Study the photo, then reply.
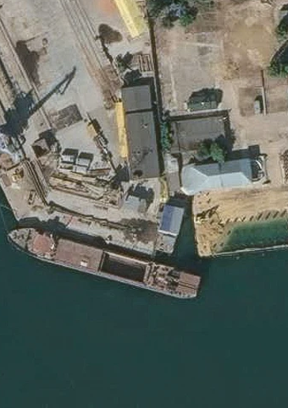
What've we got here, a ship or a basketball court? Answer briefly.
ship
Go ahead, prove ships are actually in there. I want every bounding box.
[7,228,201,298]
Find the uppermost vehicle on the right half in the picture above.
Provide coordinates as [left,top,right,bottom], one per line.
[193,207,217,221]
